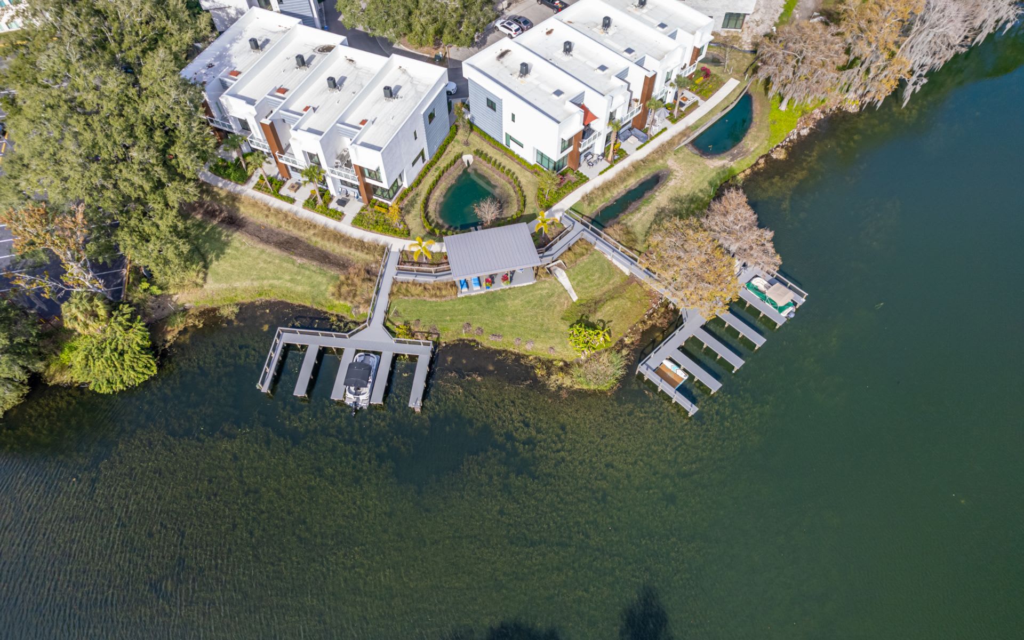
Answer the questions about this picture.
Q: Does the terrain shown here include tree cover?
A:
Yes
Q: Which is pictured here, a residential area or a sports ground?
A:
residential area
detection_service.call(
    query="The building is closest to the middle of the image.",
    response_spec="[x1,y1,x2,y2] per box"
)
[443,222,541,299]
